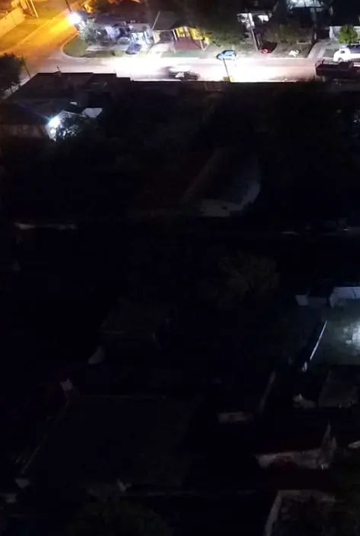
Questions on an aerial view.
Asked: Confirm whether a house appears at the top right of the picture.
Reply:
Yes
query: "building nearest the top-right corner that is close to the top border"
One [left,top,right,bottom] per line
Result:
[292,12,324,44]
